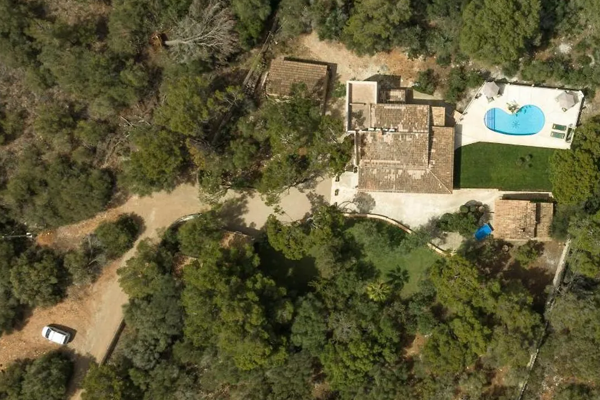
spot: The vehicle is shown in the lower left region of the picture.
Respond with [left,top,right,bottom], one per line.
[41,324,73,345]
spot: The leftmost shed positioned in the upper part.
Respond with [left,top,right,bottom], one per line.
[266,58,330,102]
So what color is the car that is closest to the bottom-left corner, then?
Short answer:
white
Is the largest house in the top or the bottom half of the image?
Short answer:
top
